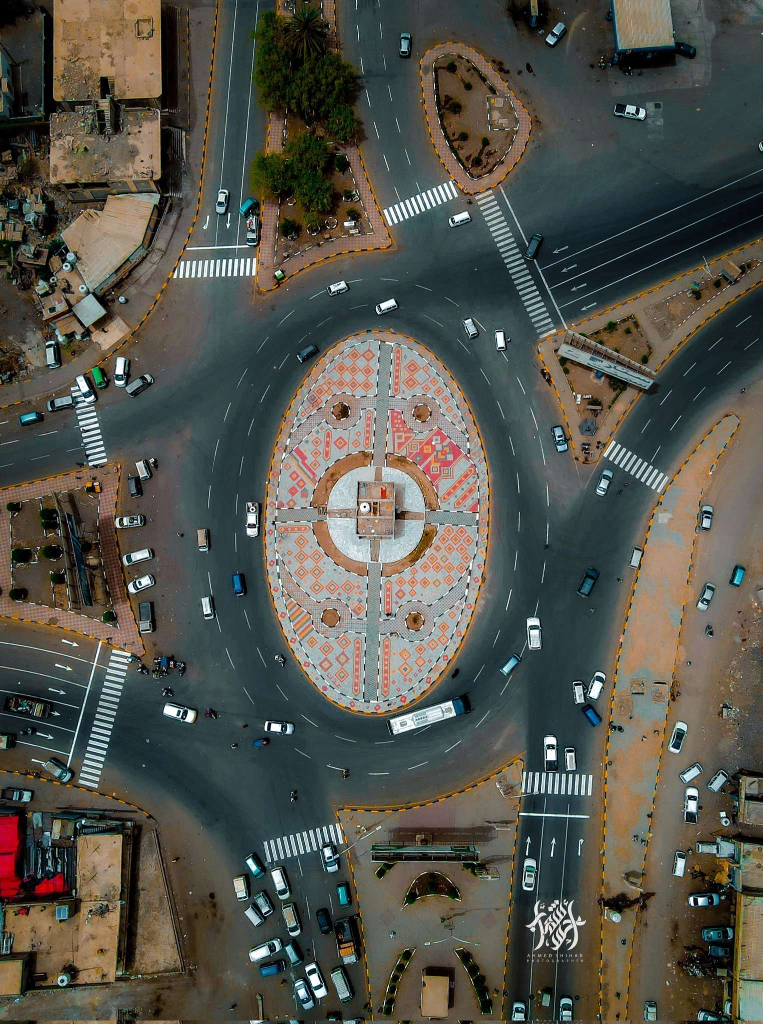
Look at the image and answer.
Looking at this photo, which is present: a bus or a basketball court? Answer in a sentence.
This aerial view contains a bus.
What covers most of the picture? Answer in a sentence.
For the most part, this view shows paved ground.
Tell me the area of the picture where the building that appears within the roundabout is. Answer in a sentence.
The building that appears within the roundabout is located in the center region of the scene.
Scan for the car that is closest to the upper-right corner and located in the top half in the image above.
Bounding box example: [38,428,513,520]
[668,38,696,58]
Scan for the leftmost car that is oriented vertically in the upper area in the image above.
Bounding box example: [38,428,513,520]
[44,341,60,369]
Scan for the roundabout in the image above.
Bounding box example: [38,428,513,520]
[263,329,491,716]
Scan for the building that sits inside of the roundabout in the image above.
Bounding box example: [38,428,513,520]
[357,481,395,543]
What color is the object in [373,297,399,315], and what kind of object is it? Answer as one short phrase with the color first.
white vehicle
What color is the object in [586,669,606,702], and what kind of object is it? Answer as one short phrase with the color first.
white car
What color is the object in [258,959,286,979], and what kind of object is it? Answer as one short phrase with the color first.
blue vehicle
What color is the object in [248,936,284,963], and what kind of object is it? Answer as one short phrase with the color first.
white car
